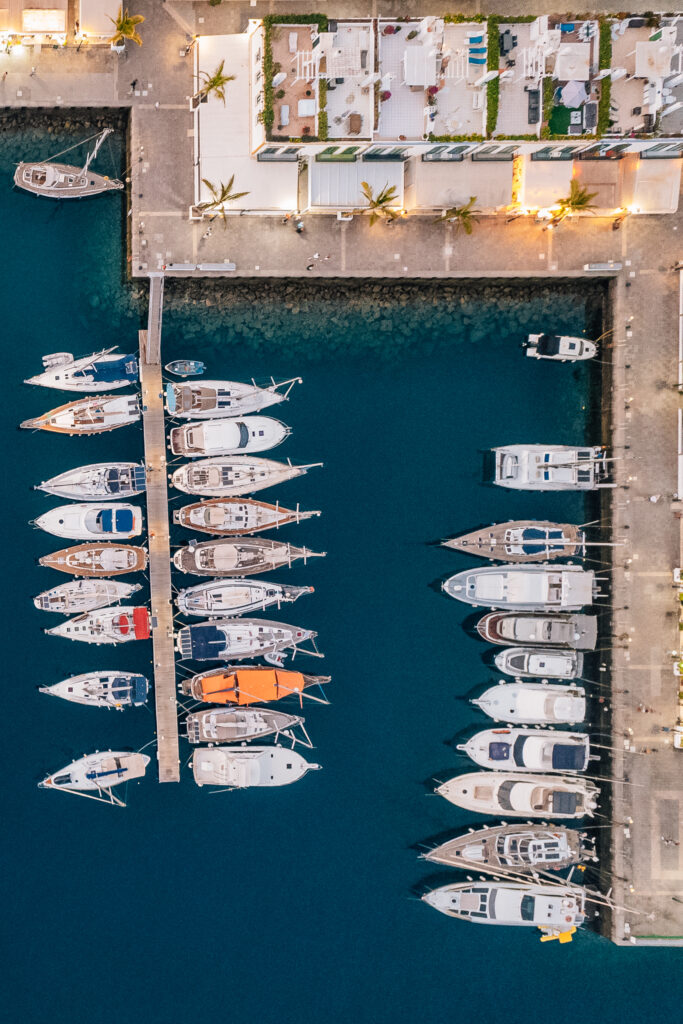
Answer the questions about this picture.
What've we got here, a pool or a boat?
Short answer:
boat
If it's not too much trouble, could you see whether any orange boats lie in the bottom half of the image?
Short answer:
Yes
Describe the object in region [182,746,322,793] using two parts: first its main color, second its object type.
white boat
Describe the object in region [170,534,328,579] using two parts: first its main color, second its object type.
gray boat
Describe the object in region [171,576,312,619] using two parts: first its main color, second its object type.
white boat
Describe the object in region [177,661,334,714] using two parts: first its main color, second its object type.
orange boat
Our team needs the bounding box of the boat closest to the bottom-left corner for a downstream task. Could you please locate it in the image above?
[37,740,156,806]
